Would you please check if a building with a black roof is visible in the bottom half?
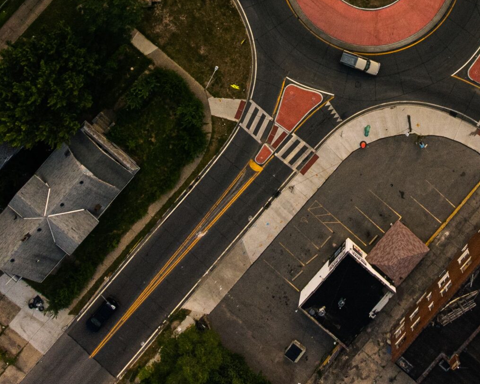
Yes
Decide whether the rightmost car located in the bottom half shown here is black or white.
black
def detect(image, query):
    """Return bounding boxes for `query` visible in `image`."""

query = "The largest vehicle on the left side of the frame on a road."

[85,294,122,332]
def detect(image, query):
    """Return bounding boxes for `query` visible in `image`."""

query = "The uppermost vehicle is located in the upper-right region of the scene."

[338,47,382,76]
